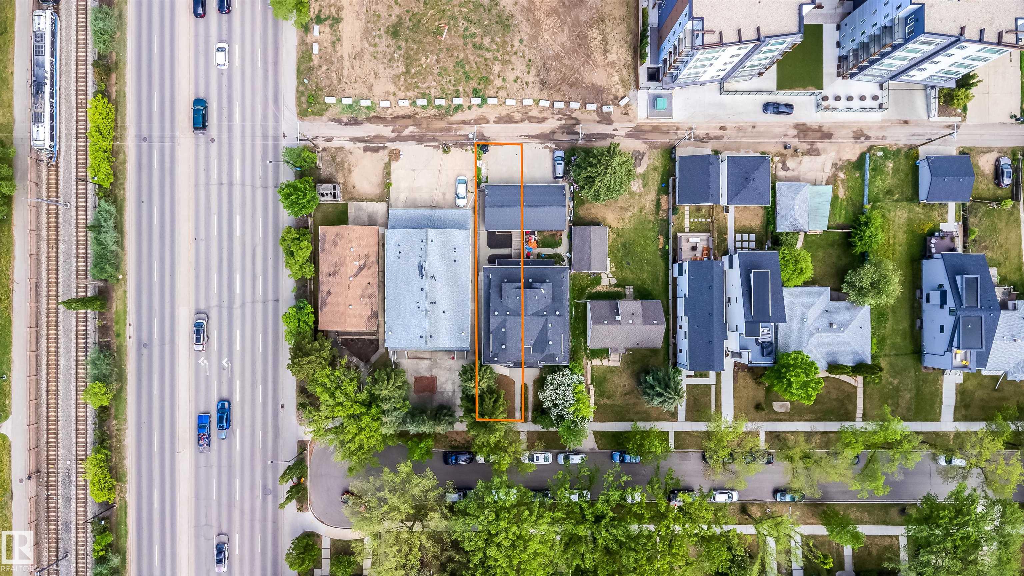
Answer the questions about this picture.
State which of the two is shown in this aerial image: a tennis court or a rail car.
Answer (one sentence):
There is a rail car in the scene.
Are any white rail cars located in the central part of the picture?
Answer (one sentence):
No, no white rail car can be made out in the central part of the picture.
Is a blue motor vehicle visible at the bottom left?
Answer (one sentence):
Yes, a blue motor vehicle is visible at the bottom left.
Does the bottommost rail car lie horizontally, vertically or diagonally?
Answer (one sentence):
The bottommost rail car has been laid out vertically relative to the frame.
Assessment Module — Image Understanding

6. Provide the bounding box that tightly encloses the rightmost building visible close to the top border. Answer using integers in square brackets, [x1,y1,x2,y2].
[840,0,1024,91]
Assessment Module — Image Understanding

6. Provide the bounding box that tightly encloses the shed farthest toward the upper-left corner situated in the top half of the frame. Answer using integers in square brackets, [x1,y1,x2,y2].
[316,183,339,202]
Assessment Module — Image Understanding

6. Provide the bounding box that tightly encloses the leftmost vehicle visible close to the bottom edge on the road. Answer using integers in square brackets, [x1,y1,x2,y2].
[213,536,230,570]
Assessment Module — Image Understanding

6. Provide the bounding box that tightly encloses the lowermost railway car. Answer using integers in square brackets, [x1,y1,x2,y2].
[29,5,58,165]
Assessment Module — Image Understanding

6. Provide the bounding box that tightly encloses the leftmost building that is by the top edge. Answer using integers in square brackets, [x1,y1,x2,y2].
[656,0,816,91]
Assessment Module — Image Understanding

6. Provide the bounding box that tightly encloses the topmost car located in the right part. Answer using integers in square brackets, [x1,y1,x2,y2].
[762,101,794,116]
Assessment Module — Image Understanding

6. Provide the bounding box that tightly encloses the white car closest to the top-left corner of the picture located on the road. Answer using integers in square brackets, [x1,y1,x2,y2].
[215,43,230,70]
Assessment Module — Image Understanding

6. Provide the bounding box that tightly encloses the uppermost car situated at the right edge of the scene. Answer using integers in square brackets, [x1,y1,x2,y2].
[994,157,1013,188]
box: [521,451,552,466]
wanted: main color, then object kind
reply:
white car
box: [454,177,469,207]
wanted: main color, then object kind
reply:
white car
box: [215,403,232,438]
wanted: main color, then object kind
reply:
blue car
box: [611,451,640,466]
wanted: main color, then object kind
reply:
blue car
